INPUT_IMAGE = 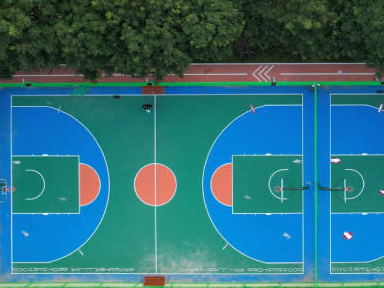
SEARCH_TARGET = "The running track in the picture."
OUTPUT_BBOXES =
[0,61,383,81]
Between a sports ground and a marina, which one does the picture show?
sports ground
